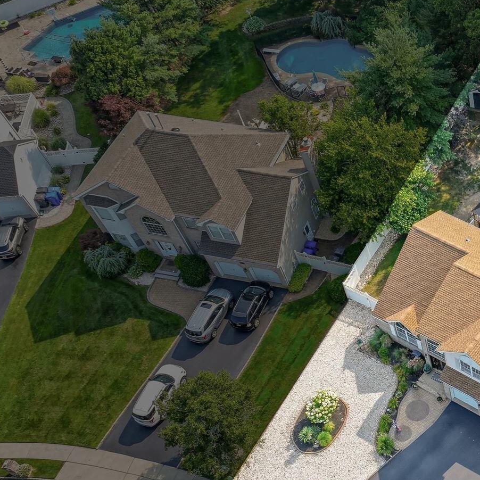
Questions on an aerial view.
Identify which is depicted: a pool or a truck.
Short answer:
pool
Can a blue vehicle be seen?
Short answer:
No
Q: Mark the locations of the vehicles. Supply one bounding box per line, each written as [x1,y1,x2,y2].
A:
[0,213,34,263]
[184,285,239,347]
[231,276,275,335]
[129,361,189,429]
